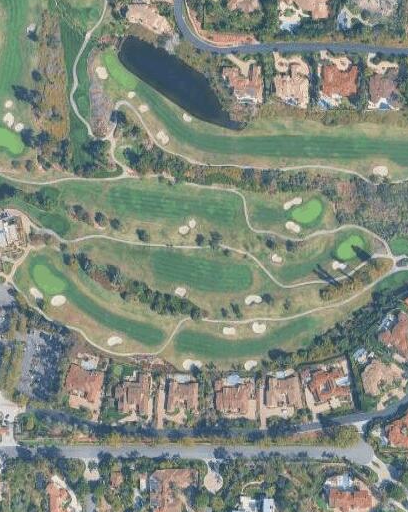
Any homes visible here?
Yes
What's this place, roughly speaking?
golf course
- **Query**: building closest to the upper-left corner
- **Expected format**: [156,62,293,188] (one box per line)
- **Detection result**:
[125,0,174,36]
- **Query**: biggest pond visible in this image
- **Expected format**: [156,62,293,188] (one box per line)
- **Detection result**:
[119,35,241,128]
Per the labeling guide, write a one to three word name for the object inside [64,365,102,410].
house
